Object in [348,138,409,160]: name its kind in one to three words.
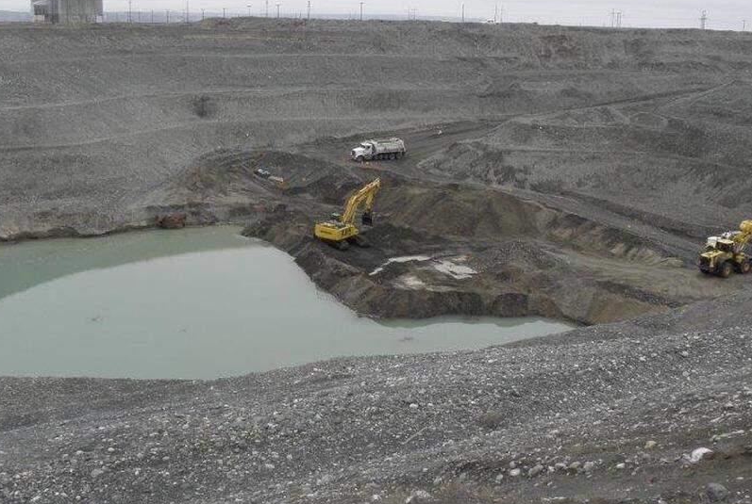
truck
